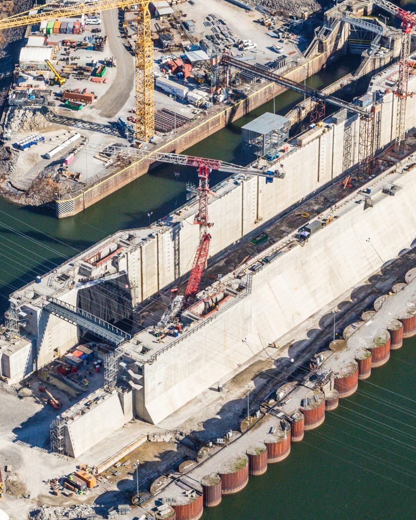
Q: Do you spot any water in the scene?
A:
Yes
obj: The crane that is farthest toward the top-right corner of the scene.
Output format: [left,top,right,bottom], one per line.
[337,0,416,152]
